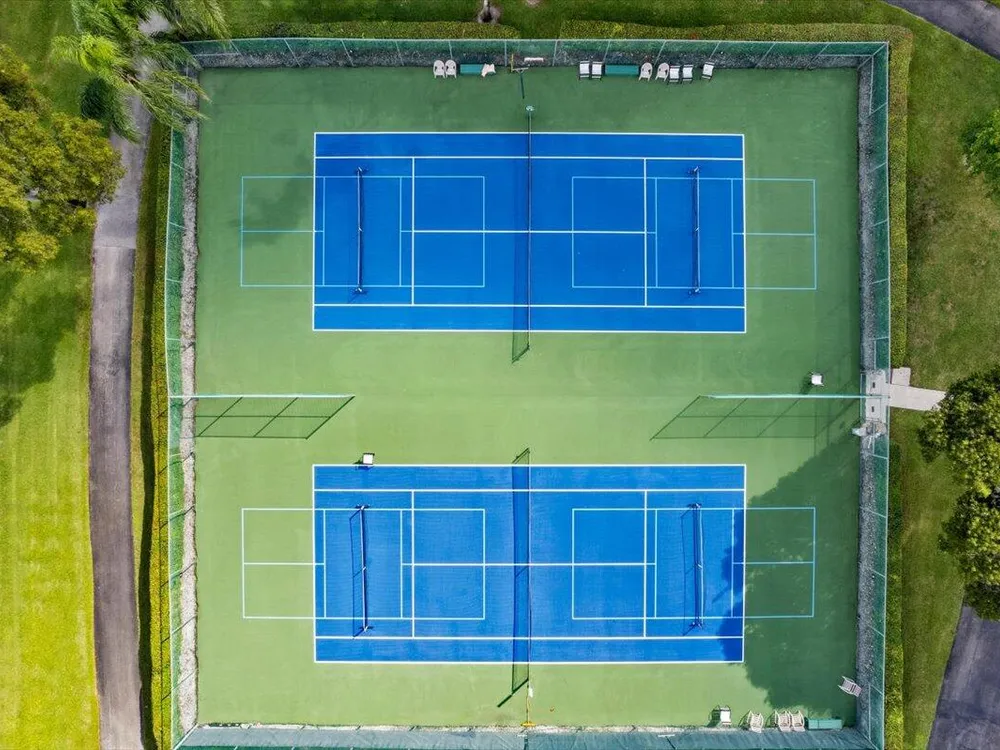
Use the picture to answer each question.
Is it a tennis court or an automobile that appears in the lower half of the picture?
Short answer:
tennis court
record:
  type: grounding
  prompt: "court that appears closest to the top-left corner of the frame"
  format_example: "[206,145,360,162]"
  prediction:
[239,176,485,287]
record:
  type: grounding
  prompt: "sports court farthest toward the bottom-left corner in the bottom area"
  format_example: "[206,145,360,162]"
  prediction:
[241,508,485,619]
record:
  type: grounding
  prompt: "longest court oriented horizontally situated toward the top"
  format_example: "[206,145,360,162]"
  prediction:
[312,132,746,333]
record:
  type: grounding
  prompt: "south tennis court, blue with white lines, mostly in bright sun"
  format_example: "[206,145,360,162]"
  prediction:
[313,464,745,663]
